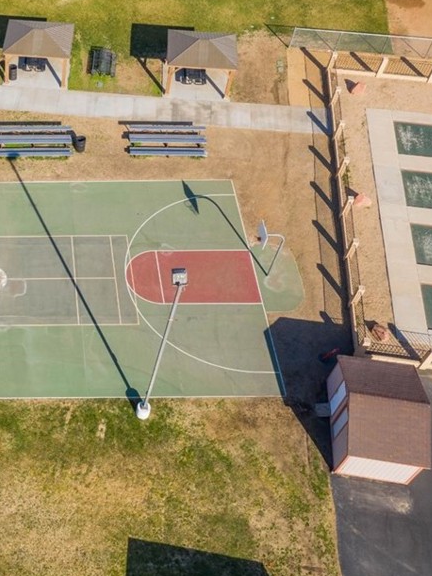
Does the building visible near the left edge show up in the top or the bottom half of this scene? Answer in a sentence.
You can find the building visible near the left edge in the top half.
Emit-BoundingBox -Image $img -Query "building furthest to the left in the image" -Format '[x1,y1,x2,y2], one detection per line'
[1,19,72,91]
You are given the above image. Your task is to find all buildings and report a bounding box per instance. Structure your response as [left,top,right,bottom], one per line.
[162,27,239,101]
[1,19,72,91]
[307,351,432,485]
